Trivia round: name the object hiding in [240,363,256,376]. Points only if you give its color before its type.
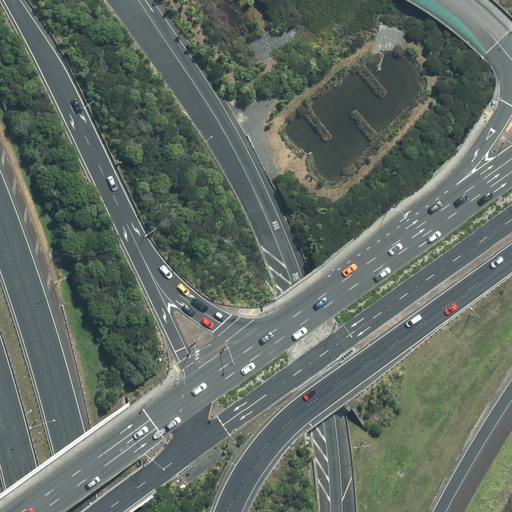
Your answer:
white vehicle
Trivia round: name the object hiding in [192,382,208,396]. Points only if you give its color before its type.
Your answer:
white vehicle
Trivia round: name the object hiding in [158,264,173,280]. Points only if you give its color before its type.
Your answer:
white car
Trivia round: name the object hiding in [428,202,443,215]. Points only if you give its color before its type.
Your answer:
gray vehicle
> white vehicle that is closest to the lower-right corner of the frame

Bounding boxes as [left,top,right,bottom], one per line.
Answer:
[406,314,424,328]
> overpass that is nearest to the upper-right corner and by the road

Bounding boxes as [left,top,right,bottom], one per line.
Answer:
[402,0,512,60]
